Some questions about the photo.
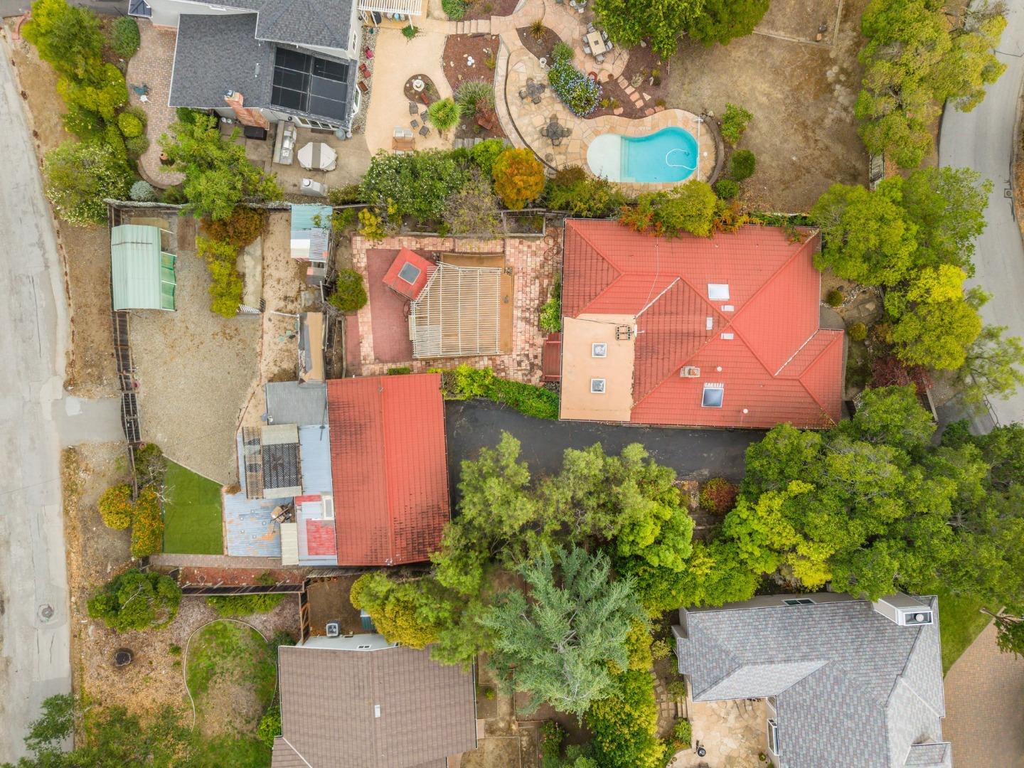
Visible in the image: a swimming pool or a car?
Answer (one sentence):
The image shows a swimming pool.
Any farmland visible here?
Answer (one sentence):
No, there is no farmland in the image.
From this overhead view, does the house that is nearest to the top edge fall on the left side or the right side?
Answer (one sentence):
The house that is nearest to the top edge sits on the left side.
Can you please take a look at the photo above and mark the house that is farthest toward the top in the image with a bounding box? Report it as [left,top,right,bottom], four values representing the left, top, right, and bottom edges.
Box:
[127,0,361,134]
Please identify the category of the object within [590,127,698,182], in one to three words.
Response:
swimming pool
